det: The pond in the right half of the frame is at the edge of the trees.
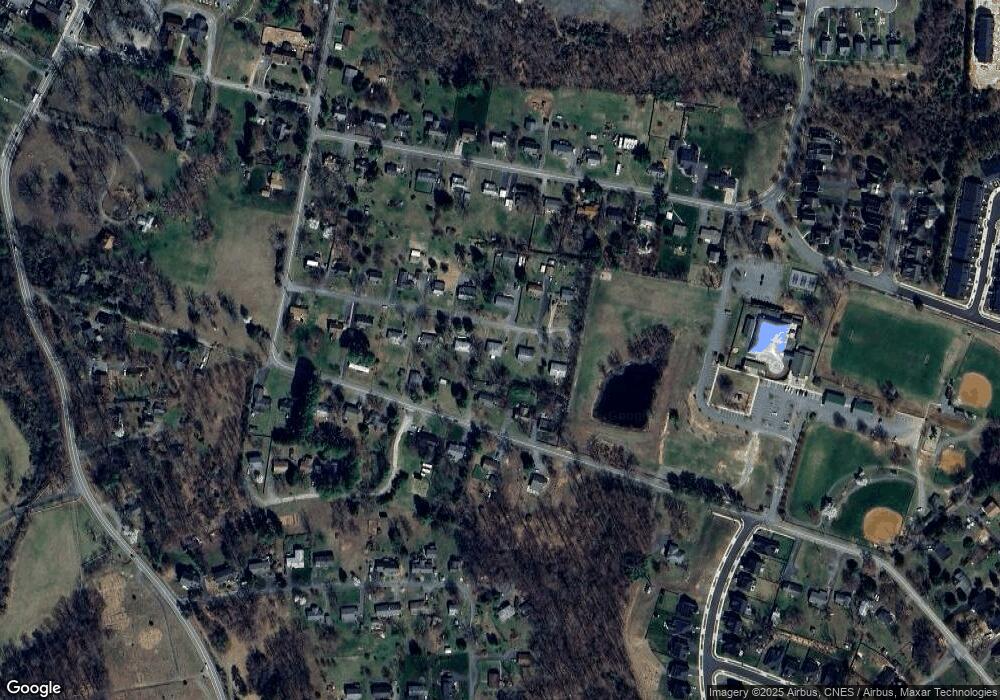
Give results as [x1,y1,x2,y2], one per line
[594,365,662,429]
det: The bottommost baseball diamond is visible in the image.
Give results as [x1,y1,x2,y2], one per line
[834,480,913,550]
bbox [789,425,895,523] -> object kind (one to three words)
sports field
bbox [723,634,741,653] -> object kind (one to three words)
house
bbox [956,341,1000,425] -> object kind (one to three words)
baseball field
